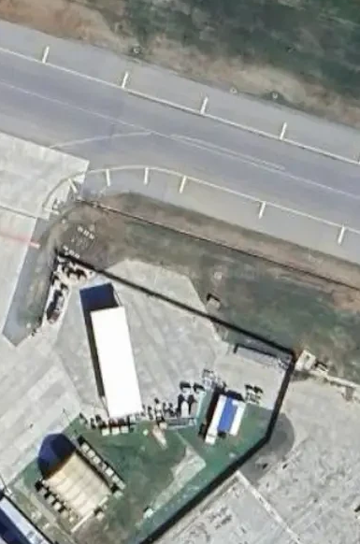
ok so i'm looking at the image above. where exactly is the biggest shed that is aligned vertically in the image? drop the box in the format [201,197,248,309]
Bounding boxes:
[89,305,143,418]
